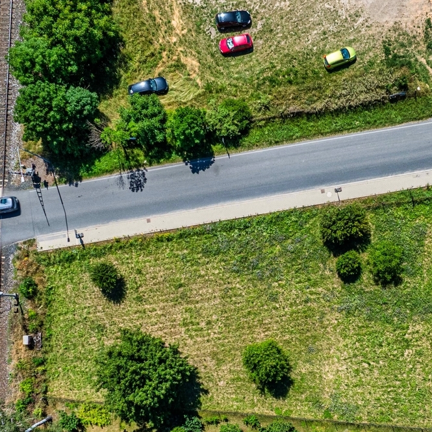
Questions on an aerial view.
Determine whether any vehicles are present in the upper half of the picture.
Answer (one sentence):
Yes, you'll find a vehicle in the upper half of the picture.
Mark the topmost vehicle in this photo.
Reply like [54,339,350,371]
[216,11,251,31]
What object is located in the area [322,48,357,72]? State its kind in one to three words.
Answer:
car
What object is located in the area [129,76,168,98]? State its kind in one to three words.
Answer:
car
